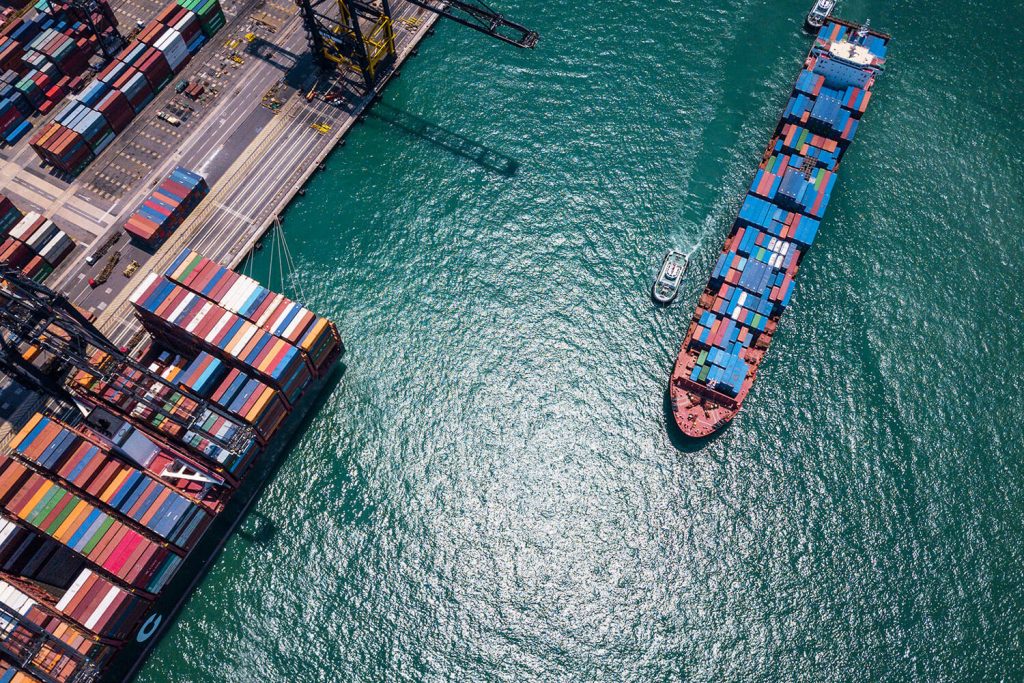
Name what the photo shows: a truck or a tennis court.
truck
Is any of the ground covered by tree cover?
No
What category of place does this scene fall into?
port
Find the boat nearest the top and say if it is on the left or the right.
right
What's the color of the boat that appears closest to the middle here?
white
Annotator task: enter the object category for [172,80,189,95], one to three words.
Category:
vehicle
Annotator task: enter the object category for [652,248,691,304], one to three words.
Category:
boat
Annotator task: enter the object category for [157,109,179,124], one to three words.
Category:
vehicle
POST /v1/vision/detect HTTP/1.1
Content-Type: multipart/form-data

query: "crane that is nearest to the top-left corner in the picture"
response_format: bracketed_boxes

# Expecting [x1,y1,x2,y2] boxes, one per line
[37,0,122,61]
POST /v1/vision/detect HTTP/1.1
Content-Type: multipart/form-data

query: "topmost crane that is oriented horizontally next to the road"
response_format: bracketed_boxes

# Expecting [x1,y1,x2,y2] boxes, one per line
[289,0,538,94]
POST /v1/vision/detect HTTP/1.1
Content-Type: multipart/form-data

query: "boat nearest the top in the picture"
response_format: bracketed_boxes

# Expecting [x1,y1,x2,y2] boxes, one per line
[808,0,838,29]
